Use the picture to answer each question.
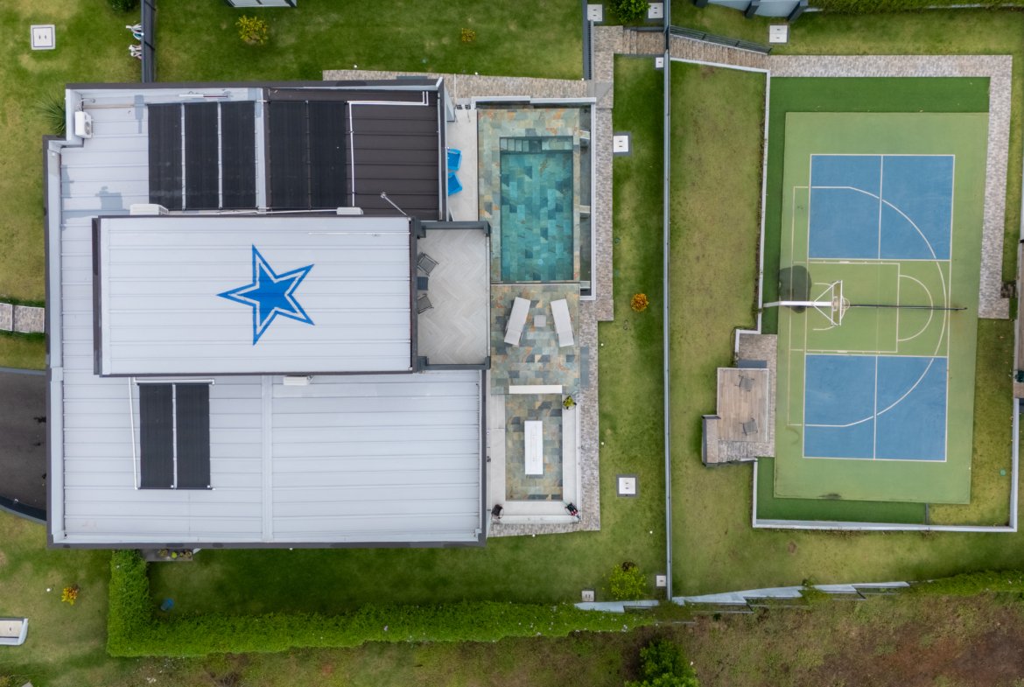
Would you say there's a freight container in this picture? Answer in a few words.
No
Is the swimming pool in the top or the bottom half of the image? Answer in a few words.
top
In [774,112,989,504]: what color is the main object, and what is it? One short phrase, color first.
green sports court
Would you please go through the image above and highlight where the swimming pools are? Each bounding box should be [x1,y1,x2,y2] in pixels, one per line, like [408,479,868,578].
[471,97,595,302]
